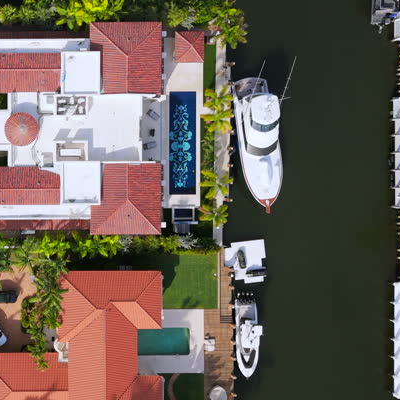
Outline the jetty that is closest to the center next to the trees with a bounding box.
[228,240,265,284]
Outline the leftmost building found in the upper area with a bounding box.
[0,22,167,235]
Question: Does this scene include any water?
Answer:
Yes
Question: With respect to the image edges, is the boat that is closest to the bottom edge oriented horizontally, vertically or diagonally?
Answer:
vertically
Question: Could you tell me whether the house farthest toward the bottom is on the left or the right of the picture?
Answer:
left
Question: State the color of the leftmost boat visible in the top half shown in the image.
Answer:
white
